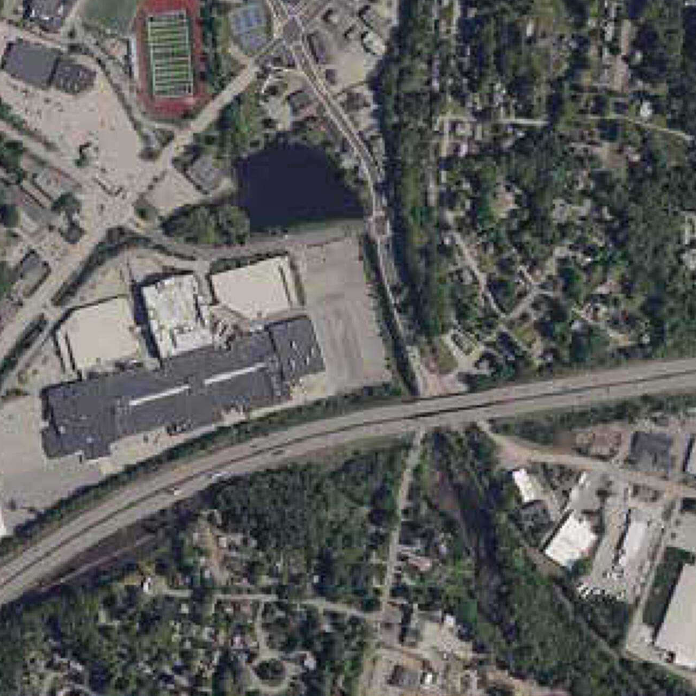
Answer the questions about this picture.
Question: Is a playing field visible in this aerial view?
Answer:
Yes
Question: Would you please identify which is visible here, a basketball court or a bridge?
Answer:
bridge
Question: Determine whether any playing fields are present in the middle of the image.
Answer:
No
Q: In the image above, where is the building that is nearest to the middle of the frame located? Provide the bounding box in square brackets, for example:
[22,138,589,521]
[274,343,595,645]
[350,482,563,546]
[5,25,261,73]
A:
[269,317,325,379]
